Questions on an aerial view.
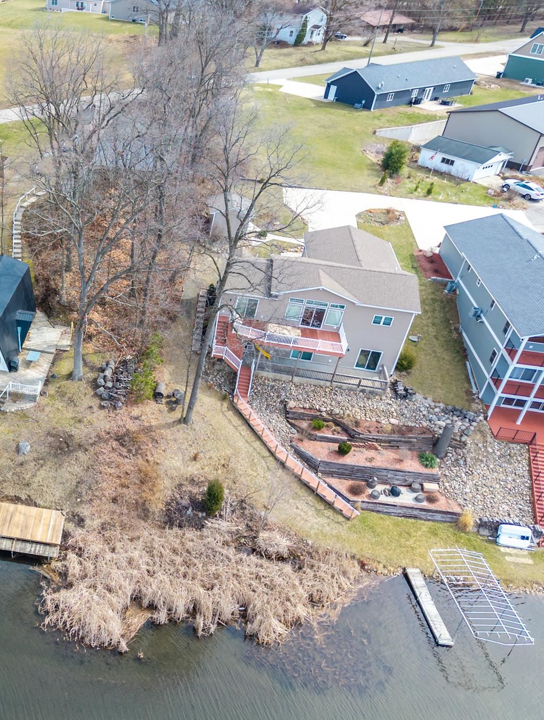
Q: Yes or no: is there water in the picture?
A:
Yes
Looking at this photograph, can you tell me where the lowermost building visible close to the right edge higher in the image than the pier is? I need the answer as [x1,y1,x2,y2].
[427,210,544,422]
